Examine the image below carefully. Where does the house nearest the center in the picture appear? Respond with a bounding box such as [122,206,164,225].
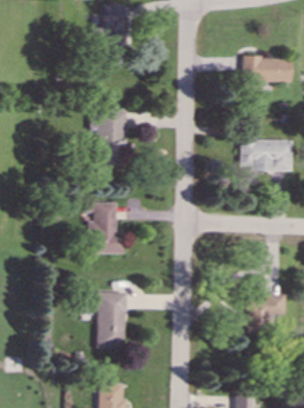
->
[88,202,126,255]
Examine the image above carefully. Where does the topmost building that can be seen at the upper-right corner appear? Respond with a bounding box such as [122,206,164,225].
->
[243,54,294,82]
